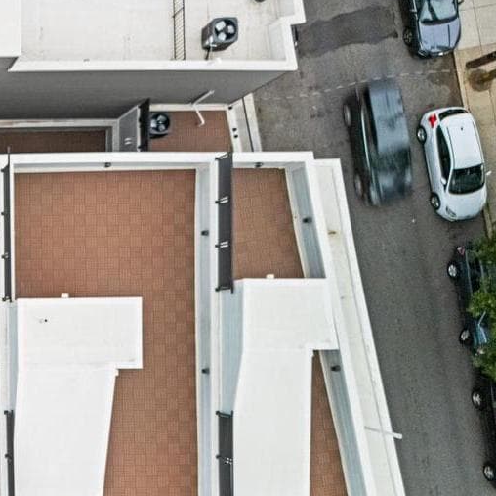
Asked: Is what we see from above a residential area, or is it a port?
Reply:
residential area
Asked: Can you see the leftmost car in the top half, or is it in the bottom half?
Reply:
top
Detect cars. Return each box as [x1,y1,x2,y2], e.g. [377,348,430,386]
[343,79,422,203]
[417,106,494,220]
[448,240,496,355]
[471,371,496,485]
[398,0,467,59]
